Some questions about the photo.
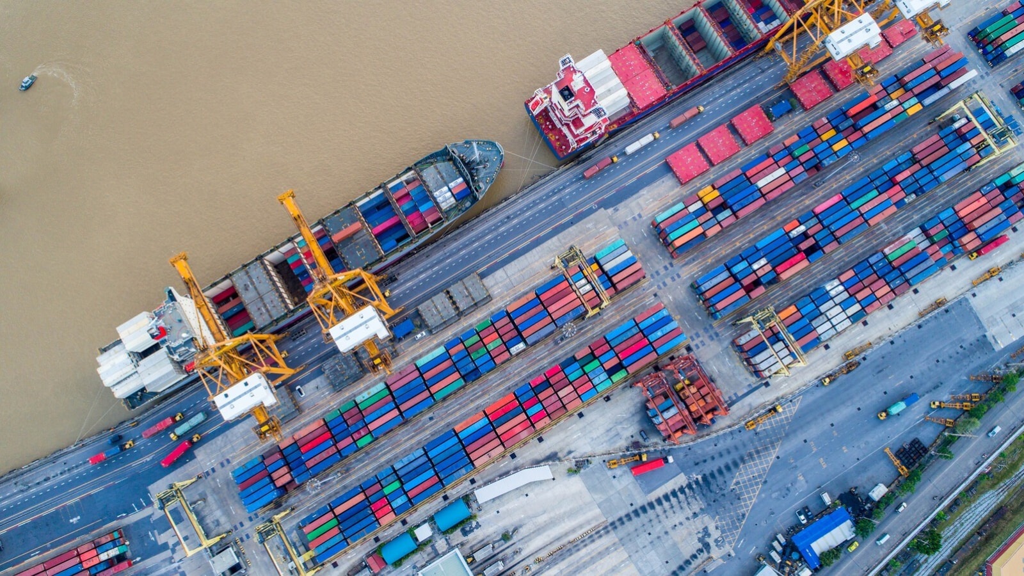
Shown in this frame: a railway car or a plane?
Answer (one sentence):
I can see a railway car in this picture.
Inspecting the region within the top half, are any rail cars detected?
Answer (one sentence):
No, I can find no rail car within the top half.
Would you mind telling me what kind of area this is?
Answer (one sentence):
What you see here is a port.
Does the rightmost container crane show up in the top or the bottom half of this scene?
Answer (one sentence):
The rightmost container crane sits in the top half of the picture.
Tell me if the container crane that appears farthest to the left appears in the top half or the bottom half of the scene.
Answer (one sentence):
It is in the bottom half that the container crane that appears farthest to the left appears.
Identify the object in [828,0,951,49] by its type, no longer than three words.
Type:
container crane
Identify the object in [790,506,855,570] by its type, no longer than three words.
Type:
building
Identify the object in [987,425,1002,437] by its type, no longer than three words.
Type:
vehicle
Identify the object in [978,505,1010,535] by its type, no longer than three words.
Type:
rail car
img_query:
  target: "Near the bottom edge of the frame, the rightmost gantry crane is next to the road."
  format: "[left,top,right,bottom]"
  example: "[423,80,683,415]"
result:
[255,502,331,576]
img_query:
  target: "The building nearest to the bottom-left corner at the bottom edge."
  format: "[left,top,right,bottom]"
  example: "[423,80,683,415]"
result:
[210,541,250,576]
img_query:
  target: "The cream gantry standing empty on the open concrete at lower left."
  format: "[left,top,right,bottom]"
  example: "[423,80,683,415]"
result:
[155,470,238,556]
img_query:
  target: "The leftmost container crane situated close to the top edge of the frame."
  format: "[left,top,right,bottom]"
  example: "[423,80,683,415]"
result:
[749,0,880,95]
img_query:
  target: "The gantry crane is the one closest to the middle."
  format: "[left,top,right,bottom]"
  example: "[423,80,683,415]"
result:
[548,246,610,325]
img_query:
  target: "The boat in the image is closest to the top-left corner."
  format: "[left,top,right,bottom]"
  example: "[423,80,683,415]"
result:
[18,74,40,92]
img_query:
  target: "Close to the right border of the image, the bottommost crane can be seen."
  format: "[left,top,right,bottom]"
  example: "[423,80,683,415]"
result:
[925,94,1019,180]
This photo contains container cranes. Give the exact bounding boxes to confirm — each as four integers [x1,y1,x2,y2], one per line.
[828,0,951,49]
[548,246,610,325]
[925,94,1019,180]
[749,0,880,95]
[727,305,807,382]
[626,370,697,446]
[167,251,310,444]
[255,502,331,576]
[155,470,238,556]
[276,189,407,378]
[655,352,729,426]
